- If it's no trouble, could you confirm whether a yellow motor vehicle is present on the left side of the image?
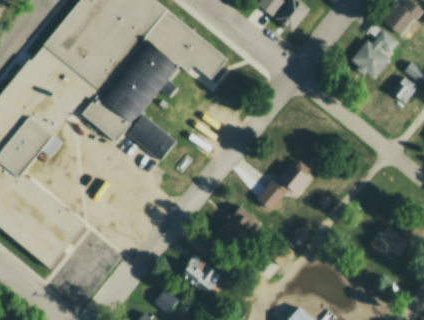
Yes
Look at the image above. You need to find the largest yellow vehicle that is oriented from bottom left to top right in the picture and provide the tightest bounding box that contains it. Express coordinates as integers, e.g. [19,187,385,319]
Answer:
[93,182,111,205]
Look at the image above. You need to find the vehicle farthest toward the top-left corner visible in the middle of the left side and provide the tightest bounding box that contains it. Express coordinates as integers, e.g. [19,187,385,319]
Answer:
[68,122,87,138]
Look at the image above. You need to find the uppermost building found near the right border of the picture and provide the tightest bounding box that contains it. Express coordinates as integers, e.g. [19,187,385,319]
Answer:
[385,0,424,40]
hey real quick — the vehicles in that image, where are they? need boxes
[262,28,279,42]
[145,159,156,170]
[258,14,270,24]
[93,182,111,205]
[126,143,139,156]
[119,136,132,150]
[194,120,220,142]
[176,154,192,171]
[202,110,222,130]
[138,154,151,170]
[322,310,334,320]
[68,122,87,138]
[188,132,214,152]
